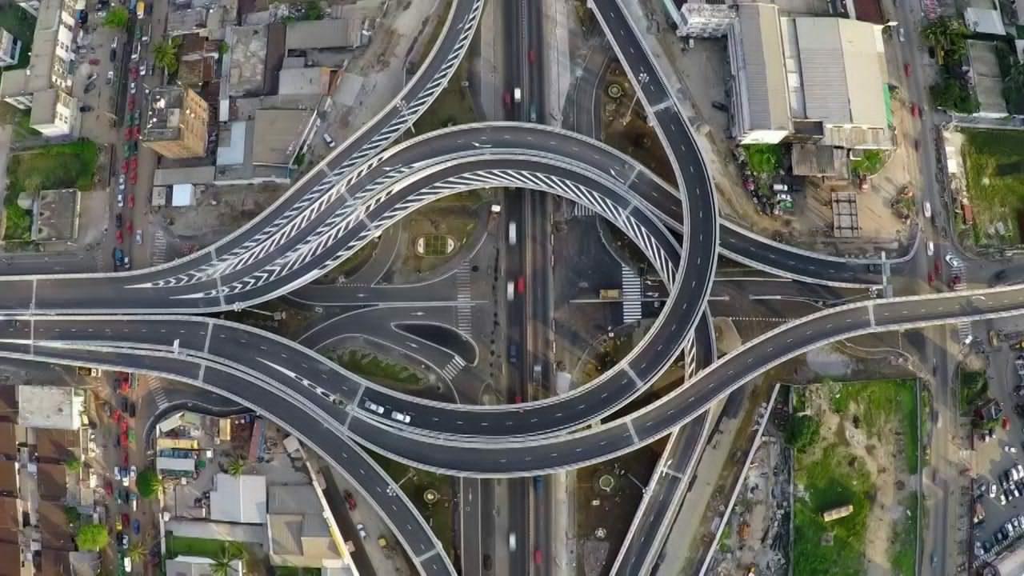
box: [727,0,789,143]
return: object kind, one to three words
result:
building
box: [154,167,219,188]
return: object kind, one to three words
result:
shed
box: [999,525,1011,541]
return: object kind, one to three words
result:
vehicle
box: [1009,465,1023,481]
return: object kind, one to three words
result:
vehicle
